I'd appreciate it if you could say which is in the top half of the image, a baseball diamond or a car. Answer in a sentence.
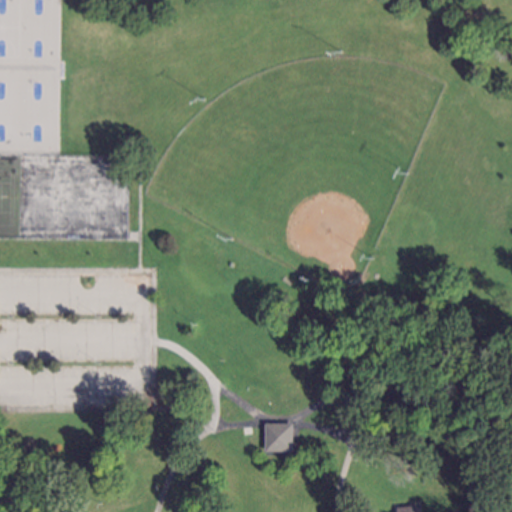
Looking in the top half of the image, you will find a baseball diamond.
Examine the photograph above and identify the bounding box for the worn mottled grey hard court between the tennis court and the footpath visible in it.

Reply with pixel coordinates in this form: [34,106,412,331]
[19,155,128,238]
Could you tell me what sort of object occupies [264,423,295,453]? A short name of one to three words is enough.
building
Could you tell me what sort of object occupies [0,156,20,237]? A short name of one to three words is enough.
tennis court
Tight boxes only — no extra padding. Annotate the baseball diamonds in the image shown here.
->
[146,55,445,288]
